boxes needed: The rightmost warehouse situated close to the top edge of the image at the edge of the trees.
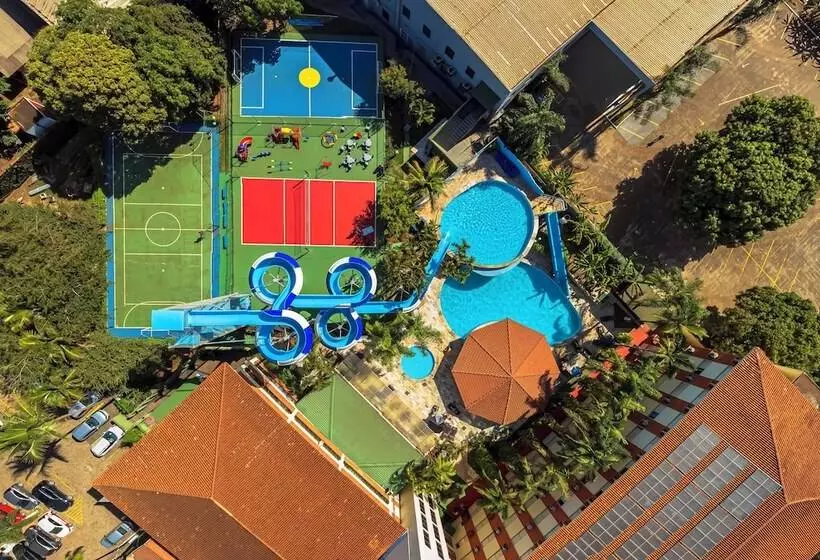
[380,0,751,164]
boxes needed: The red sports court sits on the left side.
[241,177,376,246]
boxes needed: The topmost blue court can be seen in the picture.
[239,38,378,118]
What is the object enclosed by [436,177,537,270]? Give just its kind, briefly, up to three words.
swimming pool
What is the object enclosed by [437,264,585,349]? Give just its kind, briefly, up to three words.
swimming pool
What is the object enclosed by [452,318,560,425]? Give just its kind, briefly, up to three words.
building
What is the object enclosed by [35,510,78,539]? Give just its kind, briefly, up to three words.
car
